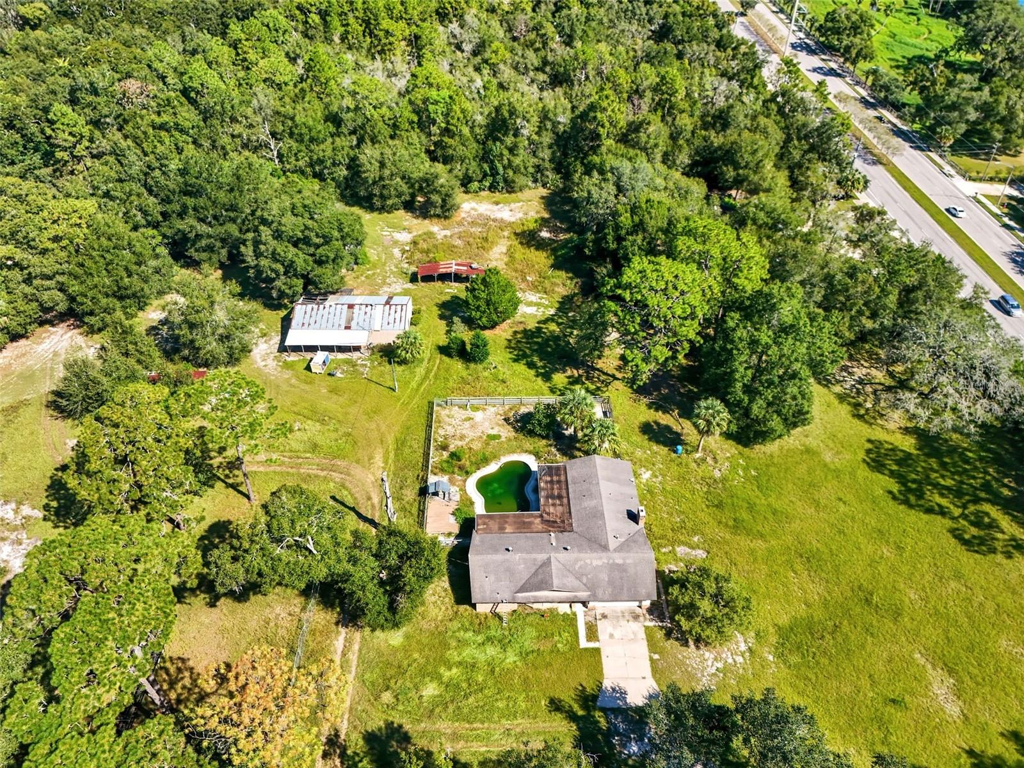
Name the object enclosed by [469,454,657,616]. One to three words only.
house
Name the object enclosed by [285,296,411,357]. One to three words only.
barn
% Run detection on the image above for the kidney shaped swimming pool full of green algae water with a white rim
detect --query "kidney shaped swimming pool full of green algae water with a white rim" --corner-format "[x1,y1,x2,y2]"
[465,452,539,512]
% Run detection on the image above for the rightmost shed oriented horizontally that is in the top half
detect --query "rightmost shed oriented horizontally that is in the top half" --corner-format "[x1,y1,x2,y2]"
[418,261,486,286]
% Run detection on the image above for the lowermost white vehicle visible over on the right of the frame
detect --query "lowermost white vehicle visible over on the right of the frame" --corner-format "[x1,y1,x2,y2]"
[947,203,968,218]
